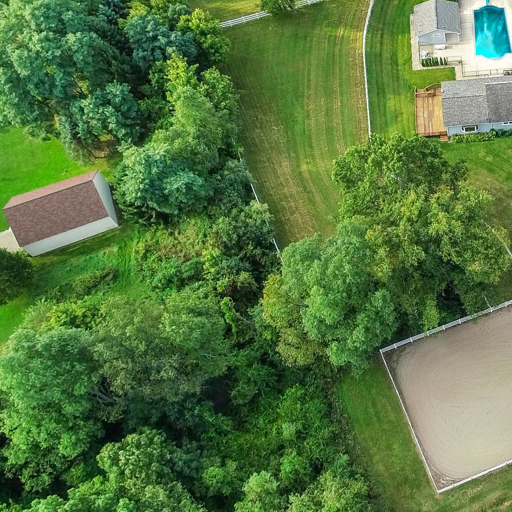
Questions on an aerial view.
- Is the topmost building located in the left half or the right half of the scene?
right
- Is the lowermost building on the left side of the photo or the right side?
left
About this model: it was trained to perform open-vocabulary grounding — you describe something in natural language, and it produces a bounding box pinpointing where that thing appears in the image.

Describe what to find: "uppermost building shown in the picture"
[416,0,461,43]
